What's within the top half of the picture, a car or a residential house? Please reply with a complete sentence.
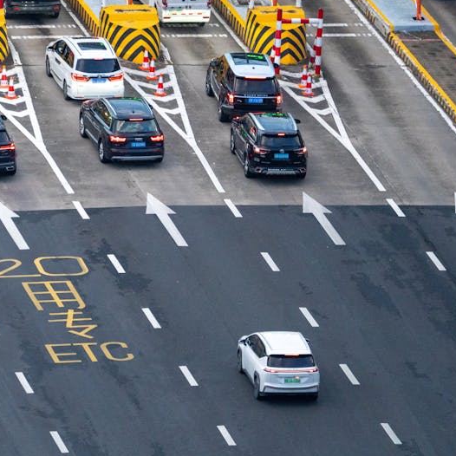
What appears within the top half of the picture is a car.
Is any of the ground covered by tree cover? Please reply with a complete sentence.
No, no tree cover is visible.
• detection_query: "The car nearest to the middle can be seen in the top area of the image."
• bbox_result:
[232,117,304,178]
